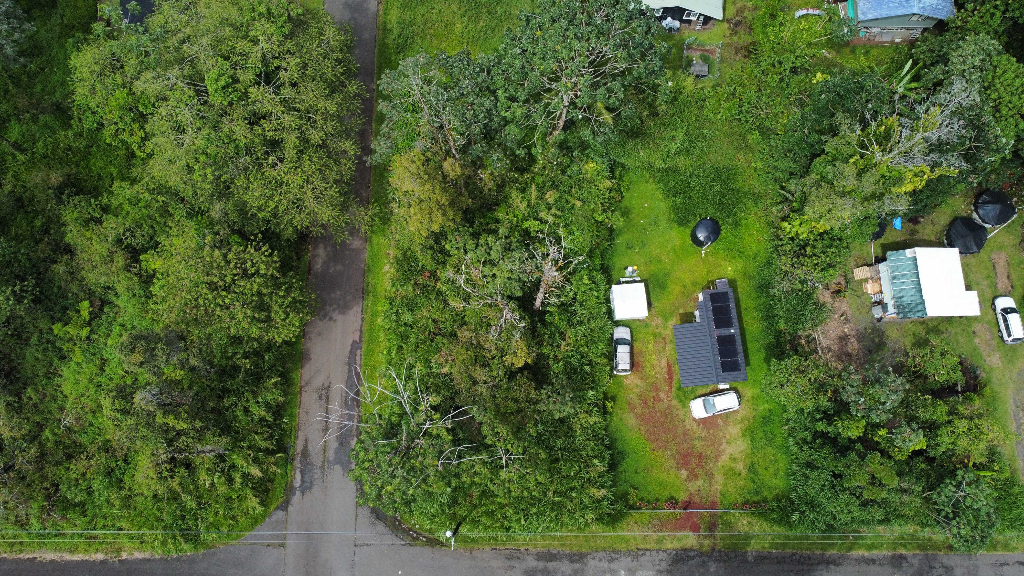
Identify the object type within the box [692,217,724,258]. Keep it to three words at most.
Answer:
water tank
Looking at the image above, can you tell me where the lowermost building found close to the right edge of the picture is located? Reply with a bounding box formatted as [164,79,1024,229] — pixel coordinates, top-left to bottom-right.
[875,246,982,320]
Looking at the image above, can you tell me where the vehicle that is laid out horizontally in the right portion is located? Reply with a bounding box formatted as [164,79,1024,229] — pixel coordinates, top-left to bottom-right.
[688,388,744,419]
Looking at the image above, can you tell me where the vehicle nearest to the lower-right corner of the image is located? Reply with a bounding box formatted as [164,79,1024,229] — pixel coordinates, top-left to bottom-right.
[990,295,1024,347]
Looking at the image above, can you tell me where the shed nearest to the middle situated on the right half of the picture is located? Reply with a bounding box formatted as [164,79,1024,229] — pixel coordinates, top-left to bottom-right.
[609,282,648,321]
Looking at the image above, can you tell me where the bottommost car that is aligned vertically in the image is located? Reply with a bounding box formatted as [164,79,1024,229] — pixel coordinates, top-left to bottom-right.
[611,325,635,378]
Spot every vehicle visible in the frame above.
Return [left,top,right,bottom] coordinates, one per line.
[688,388,744,419]
[990,295,1024,347]
[611,325,635,378]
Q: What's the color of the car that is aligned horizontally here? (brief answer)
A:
white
